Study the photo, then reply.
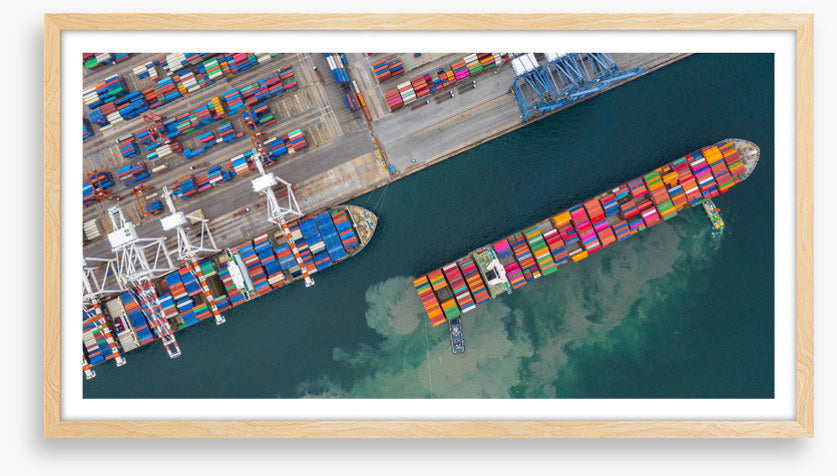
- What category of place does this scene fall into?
port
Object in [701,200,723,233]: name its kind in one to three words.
boat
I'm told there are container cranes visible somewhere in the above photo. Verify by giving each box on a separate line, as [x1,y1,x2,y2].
[87,169,122,200]
[535,53,611,103]
[248,148,314,285]
[504,53,574,123]
[251,134,280,168]
[132,186,166,218]
[143,112,177,147]
[157,186,228,321]
[100,205,178,360]
[239,104,270,140]
[83,251,133,364]
[566,53,649,89]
